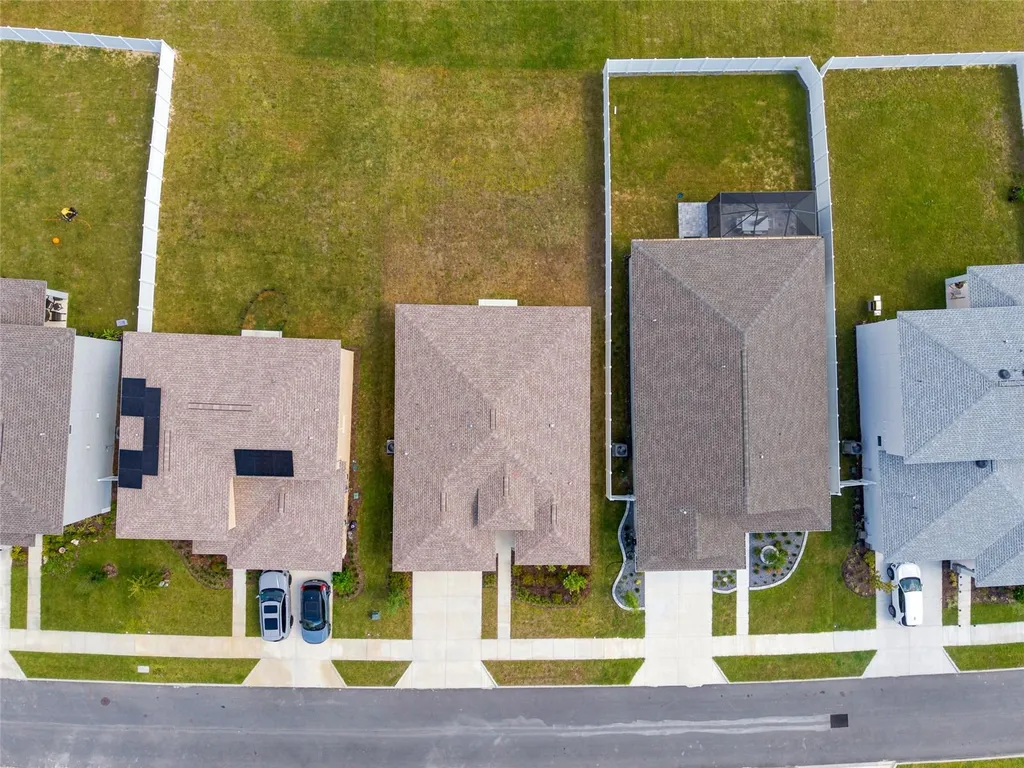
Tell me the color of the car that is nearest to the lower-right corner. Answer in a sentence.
The car that is nearest to the lower-right corner looks white in the image.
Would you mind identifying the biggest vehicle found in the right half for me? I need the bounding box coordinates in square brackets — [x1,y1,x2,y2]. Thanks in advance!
[888,562,926,628]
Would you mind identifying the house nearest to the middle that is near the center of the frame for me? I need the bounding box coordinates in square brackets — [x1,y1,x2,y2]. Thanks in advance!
[392,304,593,573]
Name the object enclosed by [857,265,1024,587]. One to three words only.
house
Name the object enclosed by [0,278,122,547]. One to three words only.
house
